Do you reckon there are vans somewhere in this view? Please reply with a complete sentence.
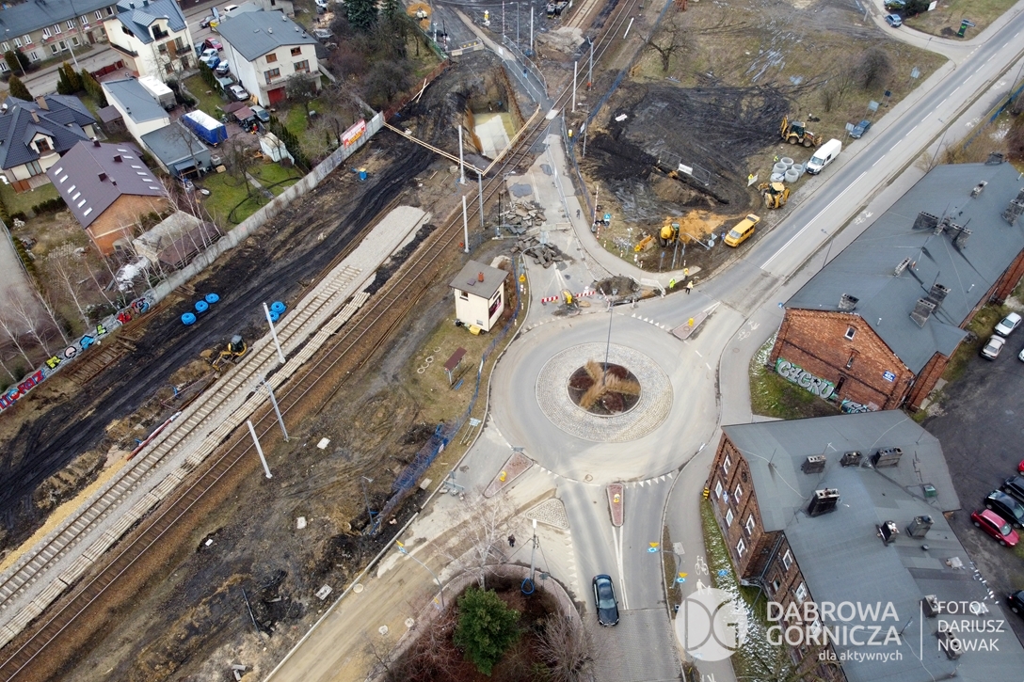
Yes, the frame does contain a van.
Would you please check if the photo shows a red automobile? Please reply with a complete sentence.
Yes, a red automobile appears in the view.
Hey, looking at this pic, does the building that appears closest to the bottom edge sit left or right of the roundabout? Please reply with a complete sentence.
The building that appears closest to the bottom edge can be seen on the right of the roundabout.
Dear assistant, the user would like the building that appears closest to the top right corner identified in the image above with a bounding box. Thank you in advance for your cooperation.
[768,150,1024,413]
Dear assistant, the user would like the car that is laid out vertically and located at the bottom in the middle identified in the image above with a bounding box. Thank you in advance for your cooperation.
[593,572,621,626]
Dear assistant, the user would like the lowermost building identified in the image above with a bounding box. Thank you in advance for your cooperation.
[699,407,1024,682]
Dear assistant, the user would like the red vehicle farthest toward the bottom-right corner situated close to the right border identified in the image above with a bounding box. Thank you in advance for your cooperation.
[973,507,1024,547]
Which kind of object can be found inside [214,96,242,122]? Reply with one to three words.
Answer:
gazebo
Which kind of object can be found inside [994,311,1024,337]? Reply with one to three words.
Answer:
car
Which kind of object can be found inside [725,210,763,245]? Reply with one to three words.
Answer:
vehicle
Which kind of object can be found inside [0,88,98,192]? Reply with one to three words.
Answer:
house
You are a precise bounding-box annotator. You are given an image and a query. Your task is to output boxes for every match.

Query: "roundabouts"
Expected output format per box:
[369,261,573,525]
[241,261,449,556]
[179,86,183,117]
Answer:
[489,312,722,482]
